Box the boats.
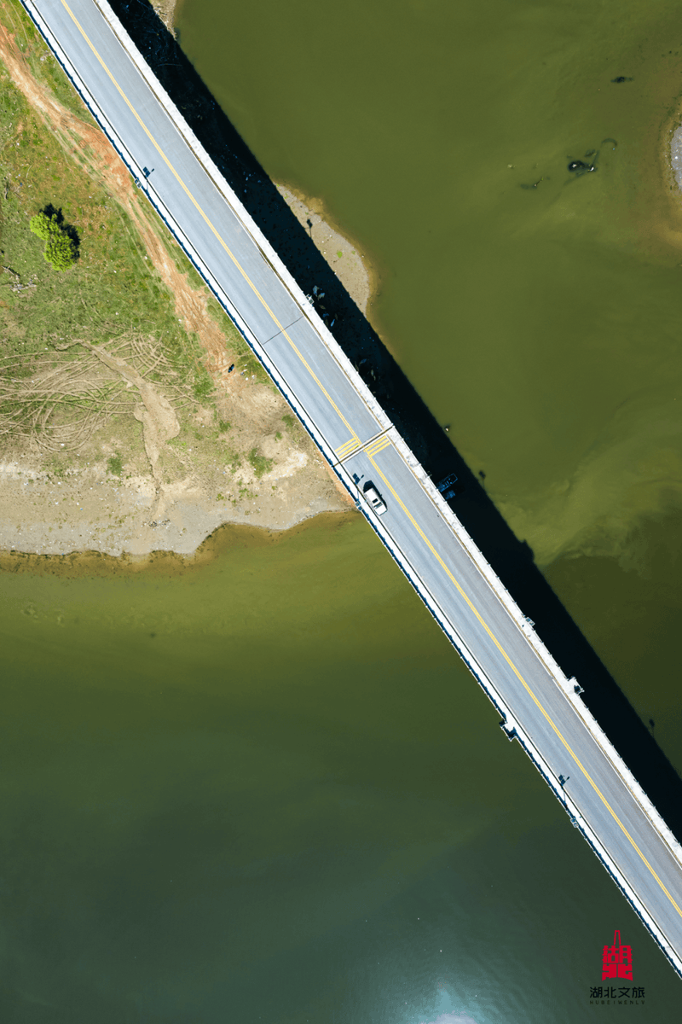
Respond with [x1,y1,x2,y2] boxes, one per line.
[437,475,458,493]
[442,489,456,502]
